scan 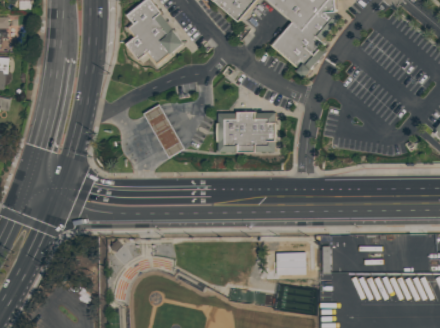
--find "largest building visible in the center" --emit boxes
[216,112,276,154]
